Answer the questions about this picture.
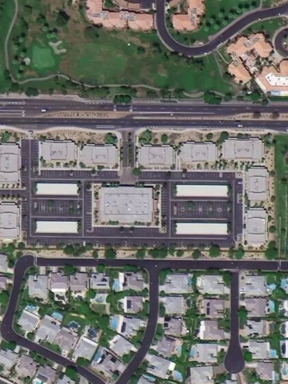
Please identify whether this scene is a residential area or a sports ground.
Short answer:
residential area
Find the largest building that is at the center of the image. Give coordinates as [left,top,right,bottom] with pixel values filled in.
[92,184,161,228]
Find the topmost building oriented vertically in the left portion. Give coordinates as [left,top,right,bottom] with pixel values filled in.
[0,142,19,183]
